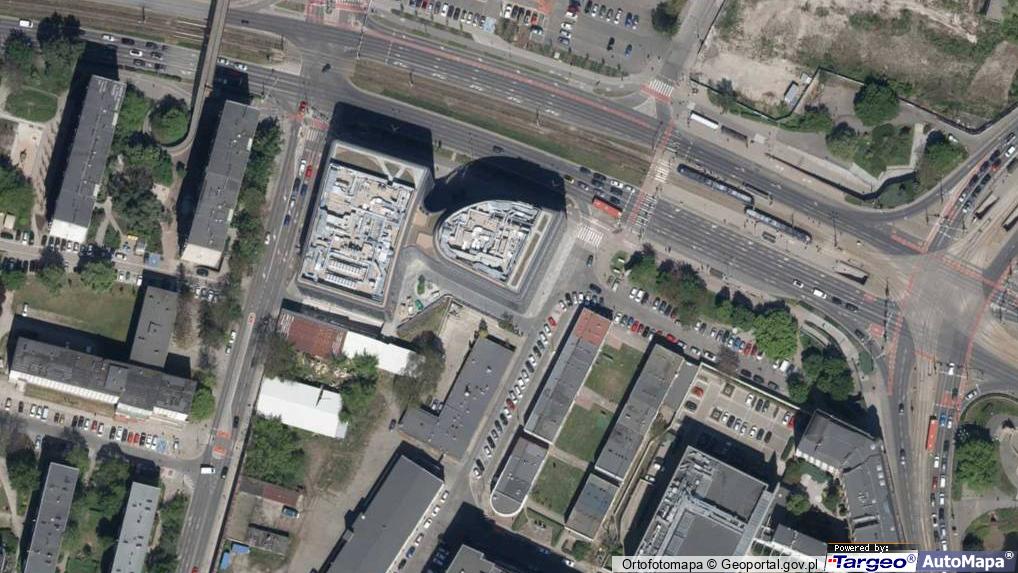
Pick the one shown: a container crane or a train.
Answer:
train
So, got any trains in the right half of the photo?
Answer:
Yes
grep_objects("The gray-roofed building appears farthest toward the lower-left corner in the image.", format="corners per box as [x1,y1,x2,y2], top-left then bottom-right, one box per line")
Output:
[24,463,80,573]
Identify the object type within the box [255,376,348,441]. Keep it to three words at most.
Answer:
shed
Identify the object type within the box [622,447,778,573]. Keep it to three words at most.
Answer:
building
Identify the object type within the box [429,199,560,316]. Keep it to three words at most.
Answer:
building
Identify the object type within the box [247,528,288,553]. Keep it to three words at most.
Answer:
shed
